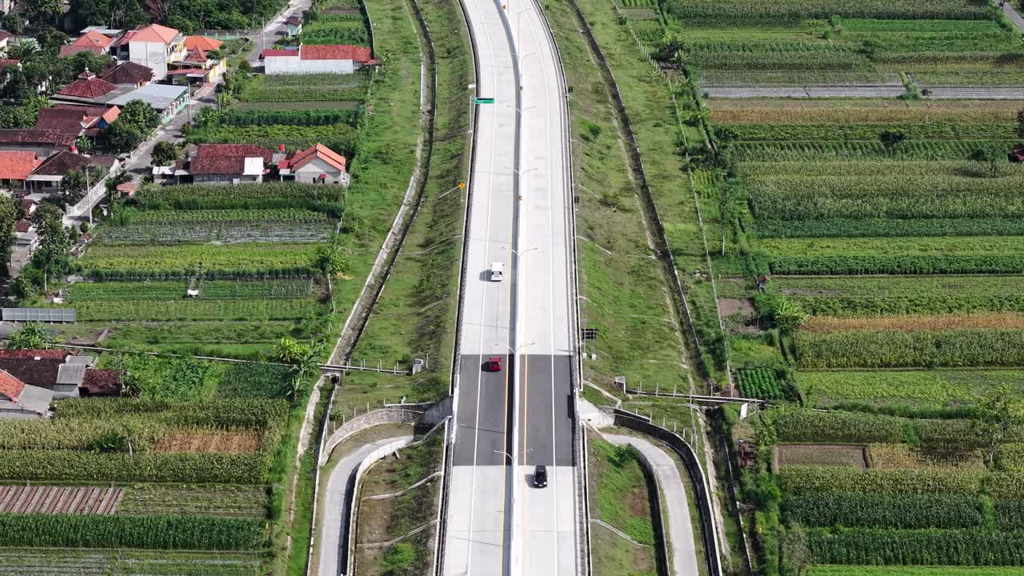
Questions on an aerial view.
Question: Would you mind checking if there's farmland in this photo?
Yes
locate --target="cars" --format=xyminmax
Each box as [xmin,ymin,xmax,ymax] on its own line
[532,460,549,483]
[490,263,504,279]
[487,354,501,369]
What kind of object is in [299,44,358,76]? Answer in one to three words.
building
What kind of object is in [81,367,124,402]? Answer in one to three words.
house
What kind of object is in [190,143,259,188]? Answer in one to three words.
house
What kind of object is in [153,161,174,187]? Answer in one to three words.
shed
